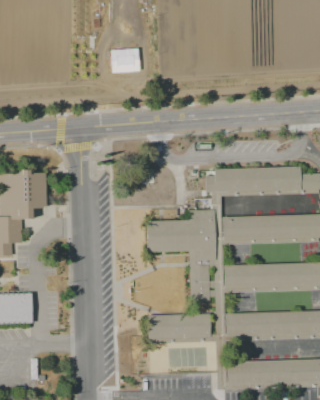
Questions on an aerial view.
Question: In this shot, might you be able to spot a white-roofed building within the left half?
Yes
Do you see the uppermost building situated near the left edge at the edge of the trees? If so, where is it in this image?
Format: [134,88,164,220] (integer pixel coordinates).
[0,170,46,256]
